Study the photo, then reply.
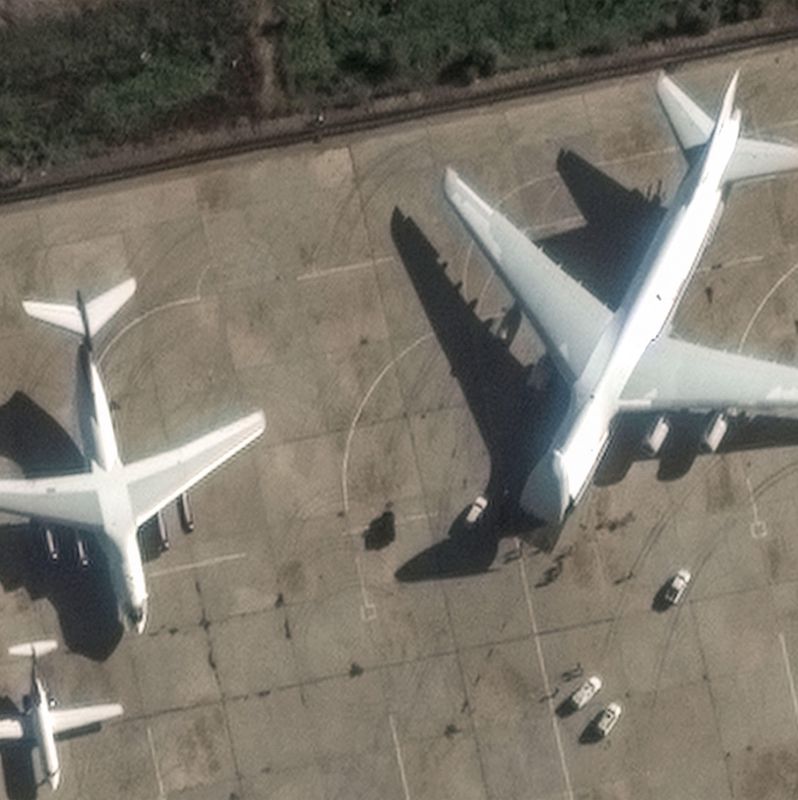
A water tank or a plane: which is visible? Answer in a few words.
plane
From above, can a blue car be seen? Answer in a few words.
No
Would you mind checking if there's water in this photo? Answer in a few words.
No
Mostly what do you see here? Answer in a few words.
paved ground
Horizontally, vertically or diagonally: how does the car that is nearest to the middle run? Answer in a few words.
diagonally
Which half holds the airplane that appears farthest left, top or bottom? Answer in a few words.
bottom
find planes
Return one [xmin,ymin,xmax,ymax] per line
[0,280,264,631]
[441,72,798,555]
[0,641,122,788]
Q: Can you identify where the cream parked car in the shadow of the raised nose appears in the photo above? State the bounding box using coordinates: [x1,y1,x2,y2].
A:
[464,495,488,522]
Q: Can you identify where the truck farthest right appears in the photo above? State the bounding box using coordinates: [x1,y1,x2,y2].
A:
[664,569,693,605]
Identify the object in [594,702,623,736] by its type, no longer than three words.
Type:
car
